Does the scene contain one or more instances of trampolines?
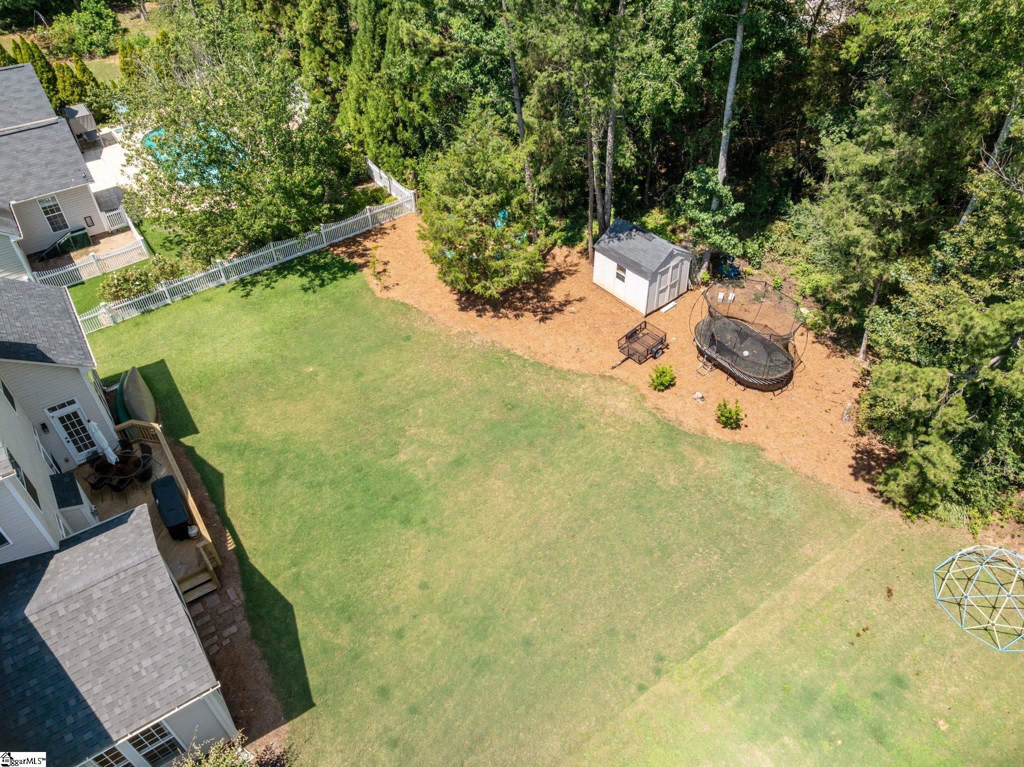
Yes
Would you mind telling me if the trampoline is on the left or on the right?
right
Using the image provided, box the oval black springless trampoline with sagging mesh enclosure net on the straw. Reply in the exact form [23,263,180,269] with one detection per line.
[683,280,812,400]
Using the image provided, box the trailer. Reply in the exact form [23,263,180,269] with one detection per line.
[609,321,674,368]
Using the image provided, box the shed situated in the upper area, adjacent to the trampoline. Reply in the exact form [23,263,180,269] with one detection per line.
[591,219,696,316]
